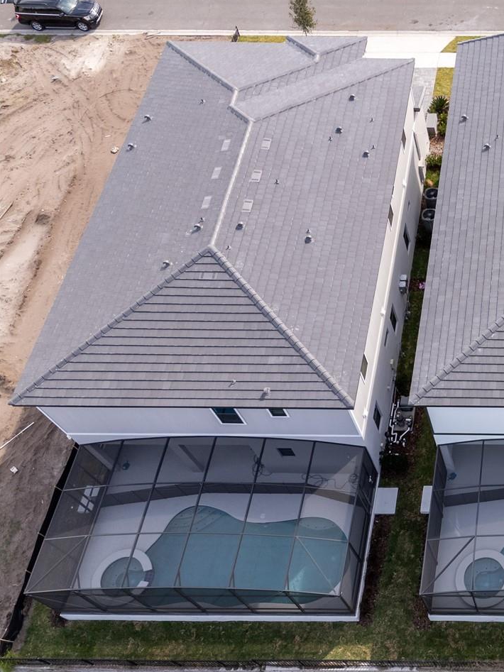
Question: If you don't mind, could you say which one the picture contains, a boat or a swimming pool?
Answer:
swimming pool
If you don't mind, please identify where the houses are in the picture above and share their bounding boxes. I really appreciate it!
[9,34,428,471]
[408,32,504,468]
